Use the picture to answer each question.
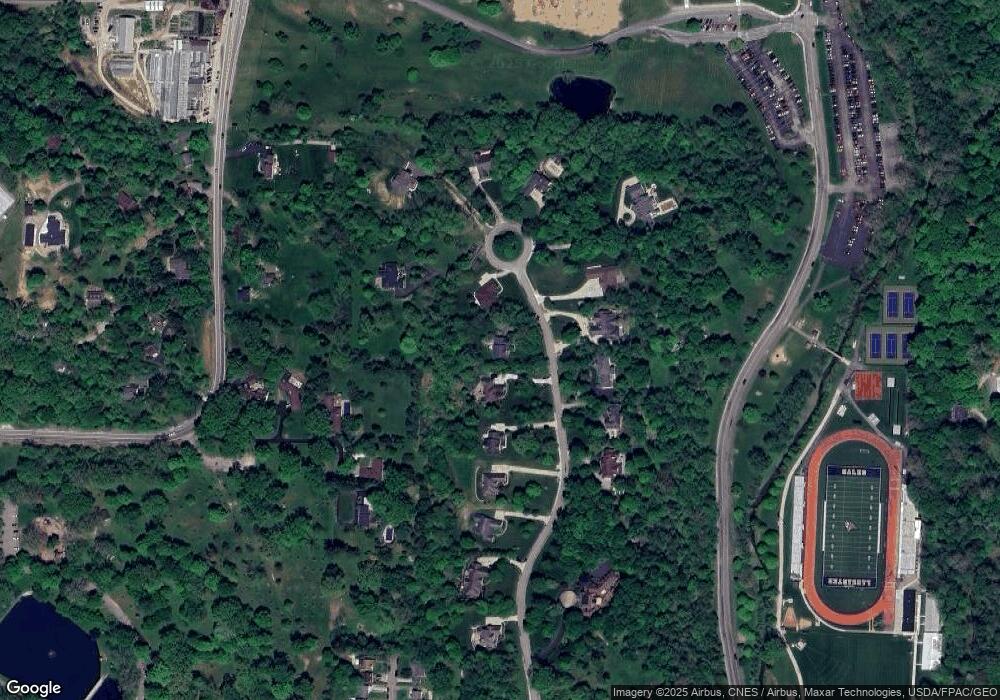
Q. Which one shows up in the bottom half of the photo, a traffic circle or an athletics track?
athletics track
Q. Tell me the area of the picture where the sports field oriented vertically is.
bottom right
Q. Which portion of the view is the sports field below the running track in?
bottom right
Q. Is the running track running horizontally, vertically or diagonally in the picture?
vertically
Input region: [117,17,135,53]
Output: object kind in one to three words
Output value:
barn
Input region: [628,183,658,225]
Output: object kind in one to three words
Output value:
house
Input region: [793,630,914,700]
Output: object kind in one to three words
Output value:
sports field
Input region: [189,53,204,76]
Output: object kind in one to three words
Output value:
greenhouse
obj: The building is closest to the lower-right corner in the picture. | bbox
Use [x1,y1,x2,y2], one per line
[924,633,944,671]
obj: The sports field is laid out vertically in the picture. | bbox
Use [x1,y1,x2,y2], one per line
[814,440,889,613]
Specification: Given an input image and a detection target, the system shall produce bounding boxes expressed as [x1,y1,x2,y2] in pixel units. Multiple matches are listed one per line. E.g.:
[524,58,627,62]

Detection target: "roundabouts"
[485,222,533,270]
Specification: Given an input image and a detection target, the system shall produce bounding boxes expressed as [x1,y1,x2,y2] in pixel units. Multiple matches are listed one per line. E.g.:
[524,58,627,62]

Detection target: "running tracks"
[804,430,901,633]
